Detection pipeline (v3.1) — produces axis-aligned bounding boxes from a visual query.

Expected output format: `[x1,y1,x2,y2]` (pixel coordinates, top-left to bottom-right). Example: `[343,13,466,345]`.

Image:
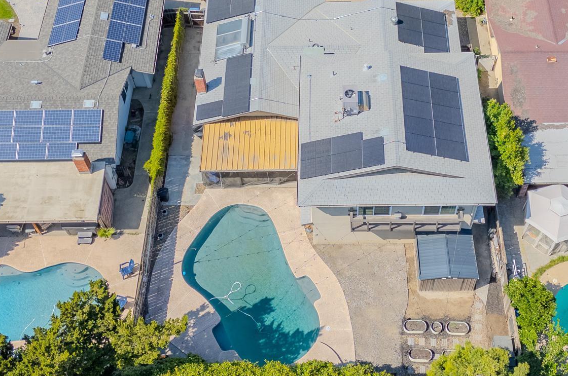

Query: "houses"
[485,0,568,204]
[0,0,167,242]
[188,0,498,244]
